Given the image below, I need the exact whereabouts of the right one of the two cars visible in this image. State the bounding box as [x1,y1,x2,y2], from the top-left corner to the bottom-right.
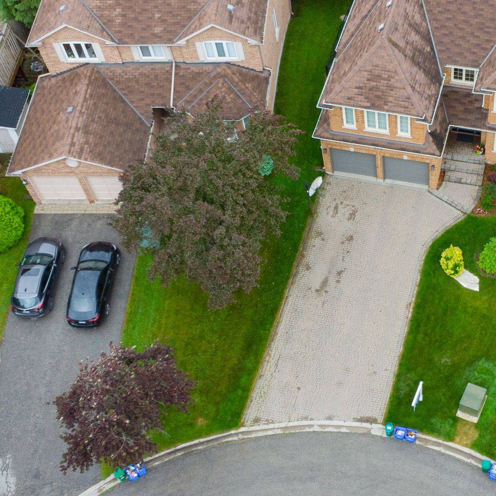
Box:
[62,245,118,331]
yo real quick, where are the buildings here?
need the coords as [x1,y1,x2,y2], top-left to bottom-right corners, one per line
[5,0,286,208]
[311,0,496,192]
